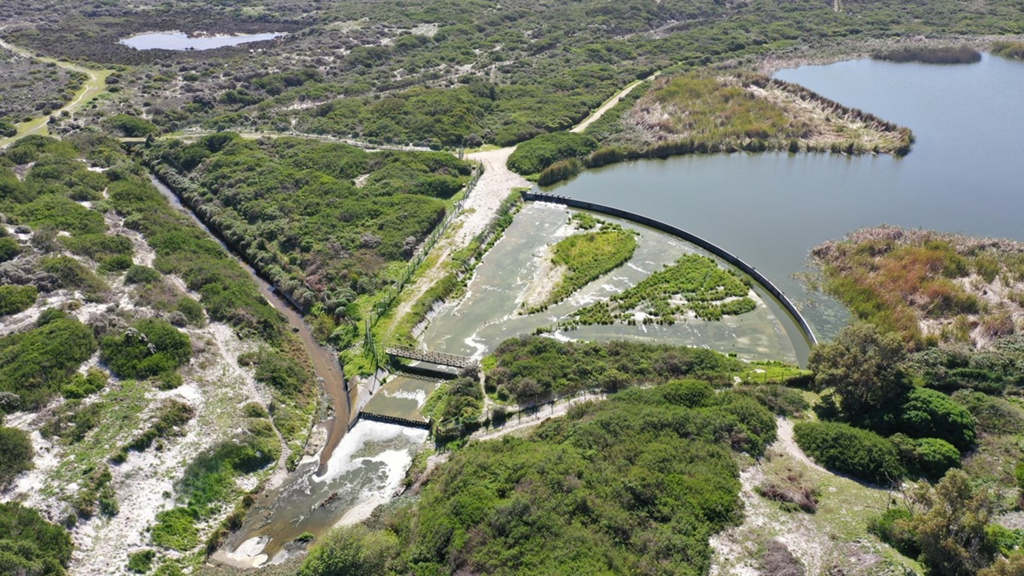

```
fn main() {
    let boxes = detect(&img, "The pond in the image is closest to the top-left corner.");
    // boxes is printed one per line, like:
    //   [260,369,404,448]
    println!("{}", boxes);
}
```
[121,31,285,49]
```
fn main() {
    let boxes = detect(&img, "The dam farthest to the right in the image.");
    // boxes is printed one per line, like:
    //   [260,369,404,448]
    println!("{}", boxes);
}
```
[510,193,828,371]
